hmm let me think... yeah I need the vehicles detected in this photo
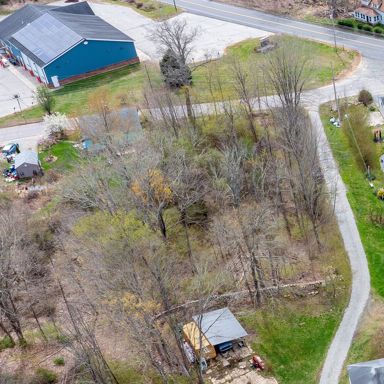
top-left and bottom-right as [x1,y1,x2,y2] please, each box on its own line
[0,141,22,154]
[216,342,233,355]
